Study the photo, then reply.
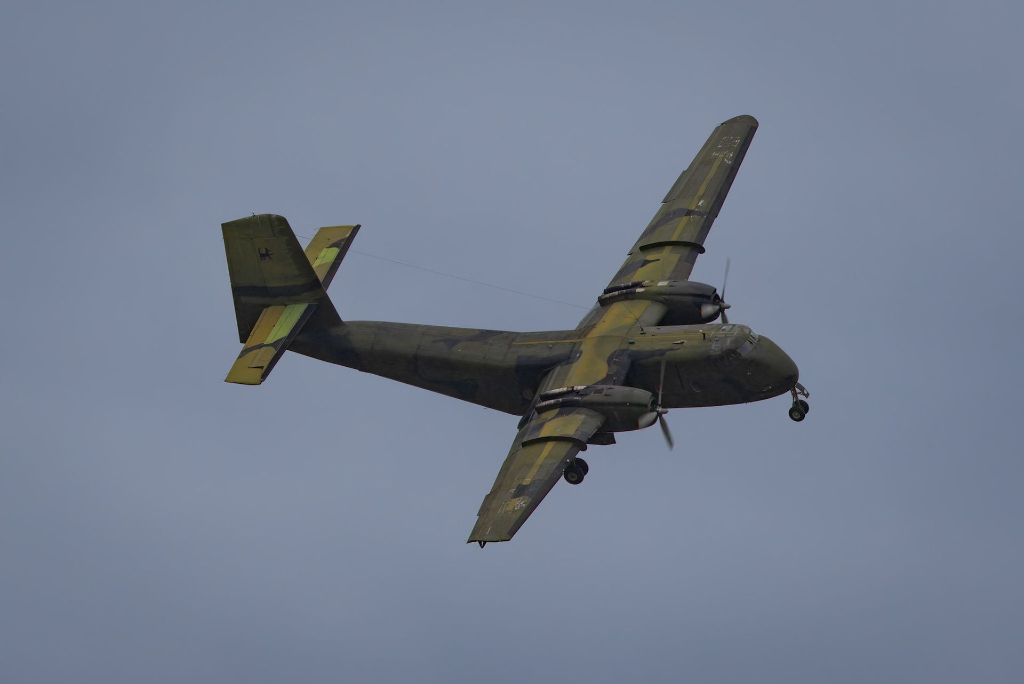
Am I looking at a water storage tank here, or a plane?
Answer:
plane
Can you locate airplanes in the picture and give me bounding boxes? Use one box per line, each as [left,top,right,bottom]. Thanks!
[219,115,810,549]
